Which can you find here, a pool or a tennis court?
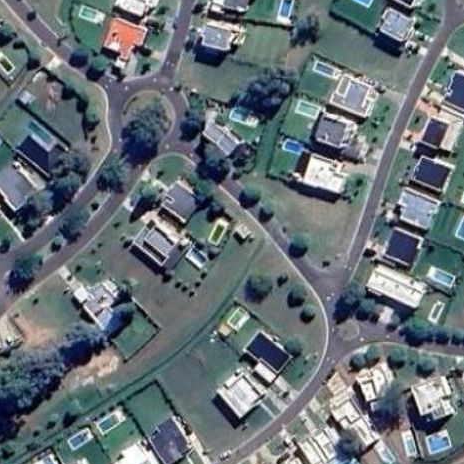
pool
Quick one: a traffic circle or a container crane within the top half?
traffic circle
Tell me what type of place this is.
residential area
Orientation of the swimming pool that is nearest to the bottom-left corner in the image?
diagonally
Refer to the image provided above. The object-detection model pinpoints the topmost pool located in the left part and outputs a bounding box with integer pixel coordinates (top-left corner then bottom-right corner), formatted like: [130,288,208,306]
[80,6,104,23]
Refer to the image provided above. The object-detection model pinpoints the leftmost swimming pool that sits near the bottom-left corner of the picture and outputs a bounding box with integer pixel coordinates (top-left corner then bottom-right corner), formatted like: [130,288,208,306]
[68,427,94,451]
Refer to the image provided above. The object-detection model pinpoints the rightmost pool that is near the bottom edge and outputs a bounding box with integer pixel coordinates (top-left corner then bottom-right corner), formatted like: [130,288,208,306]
[425,430,453,454]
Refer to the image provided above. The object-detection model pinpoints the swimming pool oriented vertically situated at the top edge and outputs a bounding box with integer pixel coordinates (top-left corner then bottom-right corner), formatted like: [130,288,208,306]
[277,0,294,25]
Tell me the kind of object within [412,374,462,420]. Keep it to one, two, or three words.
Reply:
house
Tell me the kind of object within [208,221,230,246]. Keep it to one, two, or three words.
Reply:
swimming pool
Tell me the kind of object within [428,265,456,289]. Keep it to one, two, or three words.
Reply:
swimming pool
